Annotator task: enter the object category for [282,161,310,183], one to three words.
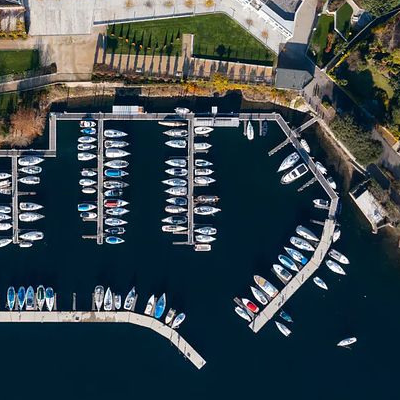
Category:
boat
